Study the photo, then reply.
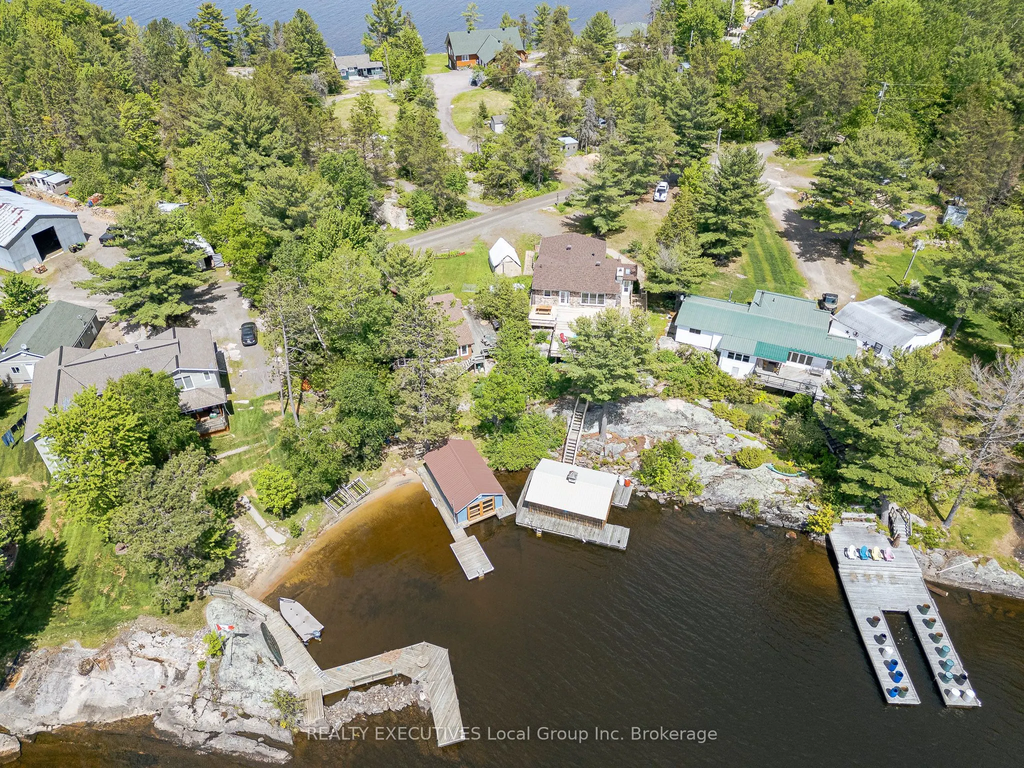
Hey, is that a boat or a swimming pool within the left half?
boat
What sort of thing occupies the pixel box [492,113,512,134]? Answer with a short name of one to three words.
shed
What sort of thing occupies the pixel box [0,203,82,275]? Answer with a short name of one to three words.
barn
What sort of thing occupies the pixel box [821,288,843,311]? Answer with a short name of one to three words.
vehicle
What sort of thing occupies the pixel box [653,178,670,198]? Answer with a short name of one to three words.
car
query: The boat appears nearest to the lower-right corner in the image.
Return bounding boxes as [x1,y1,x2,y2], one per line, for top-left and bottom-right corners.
[766,460,805,476]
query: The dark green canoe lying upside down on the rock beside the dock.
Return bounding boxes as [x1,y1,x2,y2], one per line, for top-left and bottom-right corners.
[261,620,283,665]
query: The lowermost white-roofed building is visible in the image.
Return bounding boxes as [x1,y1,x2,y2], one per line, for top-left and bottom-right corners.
[525,460,620,530]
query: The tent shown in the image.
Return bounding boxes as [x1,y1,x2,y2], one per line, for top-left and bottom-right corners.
[492,235,527,277]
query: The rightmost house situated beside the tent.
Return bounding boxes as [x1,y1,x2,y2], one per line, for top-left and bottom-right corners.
[527,228,639,364]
